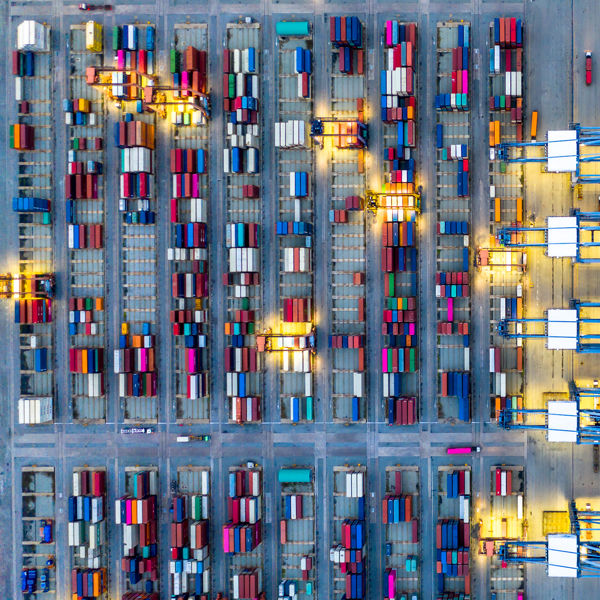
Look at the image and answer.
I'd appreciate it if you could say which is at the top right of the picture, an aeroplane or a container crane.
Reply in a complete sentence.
It is a container crane that can be seen at the top right of the picture.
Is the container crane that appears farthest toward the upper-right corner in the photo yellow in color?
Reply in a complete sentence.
No, the container crane that appears farthest toward the upper-right corner is white.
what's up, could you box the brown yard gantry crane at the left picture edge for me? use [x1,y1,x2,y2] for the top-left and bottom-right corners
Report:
[0,270,54,301]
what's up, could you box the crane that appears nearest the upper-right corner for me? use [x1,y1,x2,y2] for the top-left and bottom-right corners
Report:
[494,122,600,200]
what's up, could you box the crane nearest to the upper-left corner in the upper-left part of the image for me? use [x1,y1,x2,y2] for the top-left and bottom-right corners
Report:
[84,66,158,105]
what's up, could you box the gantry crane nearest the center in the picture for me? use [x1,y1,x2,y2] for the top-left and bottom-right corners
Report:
[254,324,316,356]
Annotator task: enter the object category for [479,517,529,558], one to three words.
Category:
container crane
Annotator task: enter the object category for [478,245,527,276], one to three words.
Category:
container crane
